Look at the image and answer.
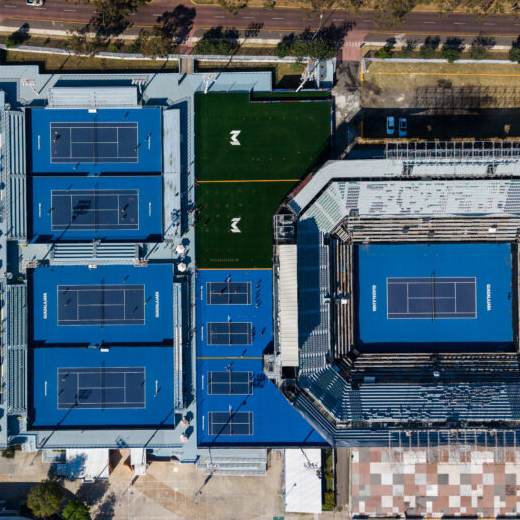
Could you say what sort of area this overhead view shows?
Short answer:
sports ground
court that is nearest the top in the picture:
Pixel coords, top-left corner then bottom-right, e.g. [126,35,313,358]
[28,109,163,175]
